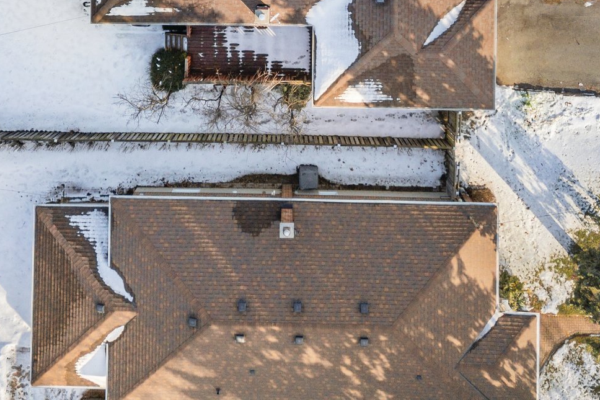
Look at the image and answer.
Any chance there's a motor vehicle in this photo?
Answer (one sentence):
No, there appears to be no motor vehicle in this shot.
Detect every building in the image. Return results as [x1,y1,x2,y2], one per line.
[29,177,541,400]
[90,0,498,112]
